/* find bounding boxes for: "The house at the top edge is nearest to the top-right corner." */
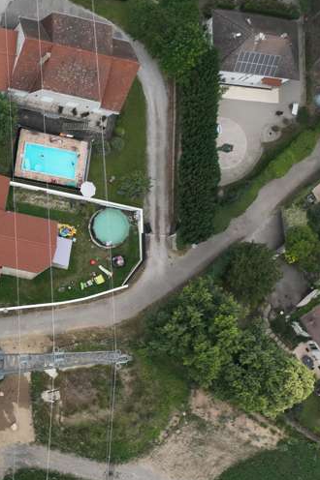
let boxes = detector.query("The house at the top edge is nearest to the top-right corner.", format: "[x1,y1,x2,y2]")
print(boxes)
[201,9,299,102]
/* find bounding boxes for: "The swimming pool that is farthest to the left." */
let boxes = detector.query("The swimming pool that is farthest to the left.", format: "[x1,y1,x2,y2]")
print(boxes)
[12,128,91,186]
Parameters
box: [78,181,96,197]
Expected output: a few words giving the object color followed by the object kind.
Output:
white umbrella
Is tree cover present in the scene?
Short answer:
Yes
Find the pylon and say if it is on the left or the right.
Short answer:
left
